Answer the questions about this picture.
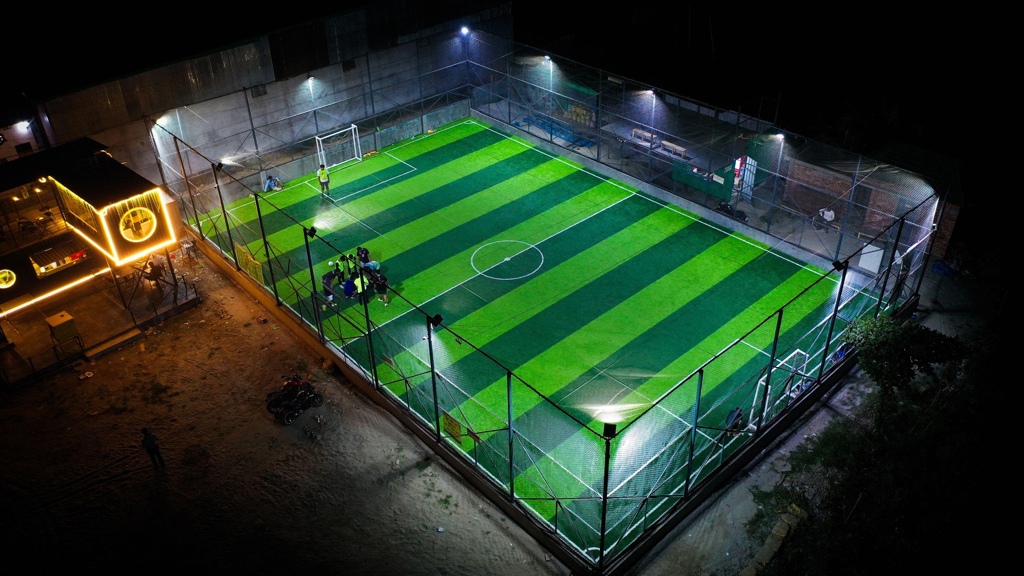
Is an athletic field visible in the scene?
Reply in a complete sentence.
Yes, an athletic field is visible in the scene.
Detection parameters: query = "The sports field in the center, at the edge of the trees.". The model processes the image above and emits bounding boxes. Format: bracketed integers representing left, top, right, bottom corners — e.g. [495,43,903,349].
[185,117,894,566]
